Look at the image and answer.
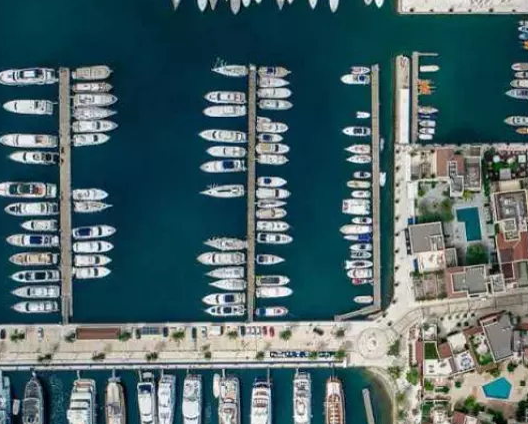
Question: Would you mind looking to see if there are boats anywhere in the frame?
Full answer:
Yes, looking at the shot, I can spot a boat.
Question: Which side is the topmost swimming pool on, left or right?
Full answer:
It is on the right.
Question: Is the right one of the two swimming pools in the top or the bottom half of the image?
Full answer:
The right one of the two swimming pools is in the bottom half of the image.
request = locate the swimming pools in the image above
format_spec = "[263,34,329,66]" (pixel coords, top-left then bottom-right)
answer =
[455,205,484,243]
[481,375,514,401]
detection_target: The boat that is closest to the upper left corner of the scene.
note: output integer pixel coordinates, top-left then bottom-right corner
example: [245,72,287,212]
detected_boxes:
[0,66,58,84]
